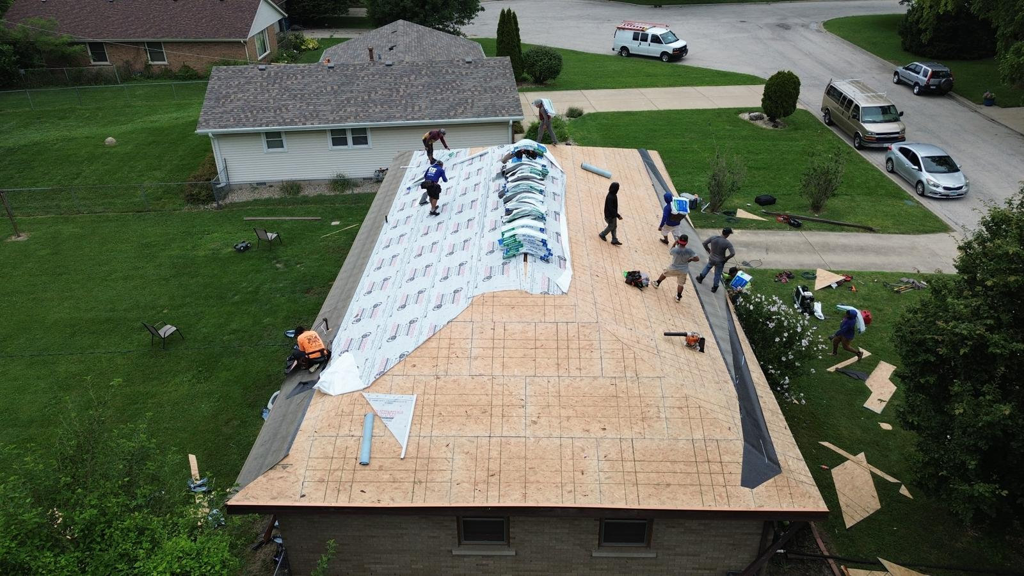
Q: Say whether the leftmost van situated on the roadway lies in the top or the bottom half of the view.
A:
top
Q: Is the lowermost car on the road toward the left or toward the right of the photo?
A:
right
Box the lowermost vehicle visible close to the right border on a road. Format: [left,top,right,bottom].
[883,144,973,200]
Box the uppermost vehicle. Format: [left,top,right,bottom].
[608,23,695,62]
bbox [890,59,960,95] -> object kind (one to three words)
car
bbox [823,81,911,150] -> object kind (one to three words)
van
